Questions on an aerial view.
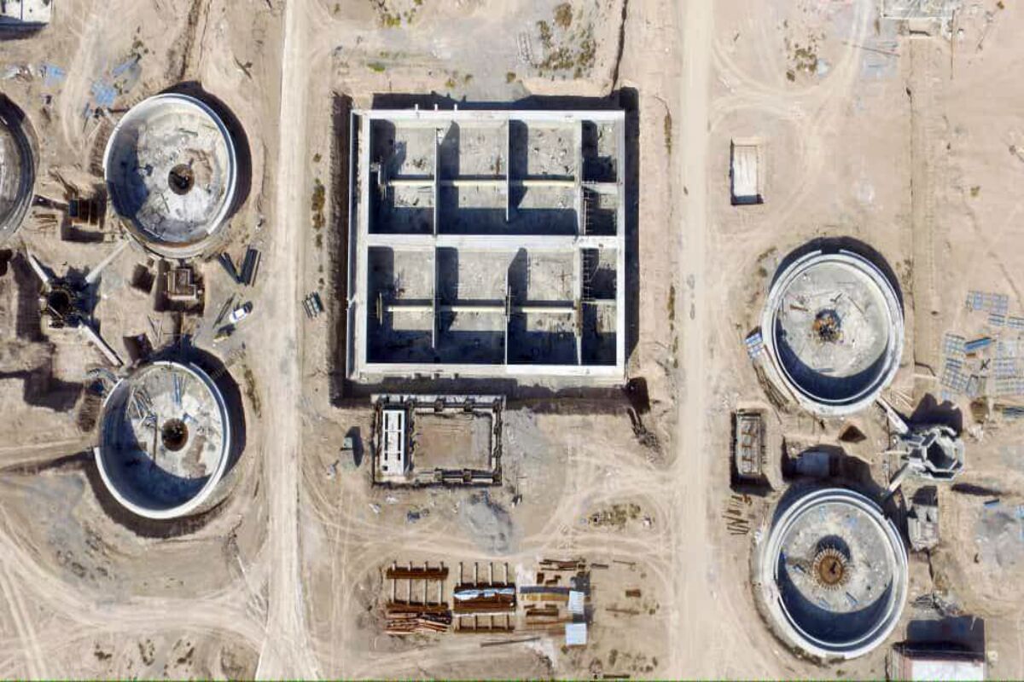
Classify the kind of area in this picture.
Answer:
industrial area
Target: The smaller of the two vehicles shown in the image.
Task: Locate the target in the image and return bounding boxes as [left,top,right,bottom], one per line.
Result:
[212,330,230,343]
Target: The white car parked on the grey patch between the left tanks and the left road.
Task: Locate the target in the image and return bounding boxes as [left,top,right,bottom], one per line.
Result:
[231,305,251,323]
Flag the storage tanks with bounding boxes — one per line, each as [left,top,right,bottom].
[755,243,904,412]
[95,360,241,519]
[104,92,248,254]
[758,484,907,654]
[0,98,42,252]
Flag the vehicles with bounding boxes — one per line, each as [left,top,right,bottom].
[231,305,251,323]
[212,330,230,343]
